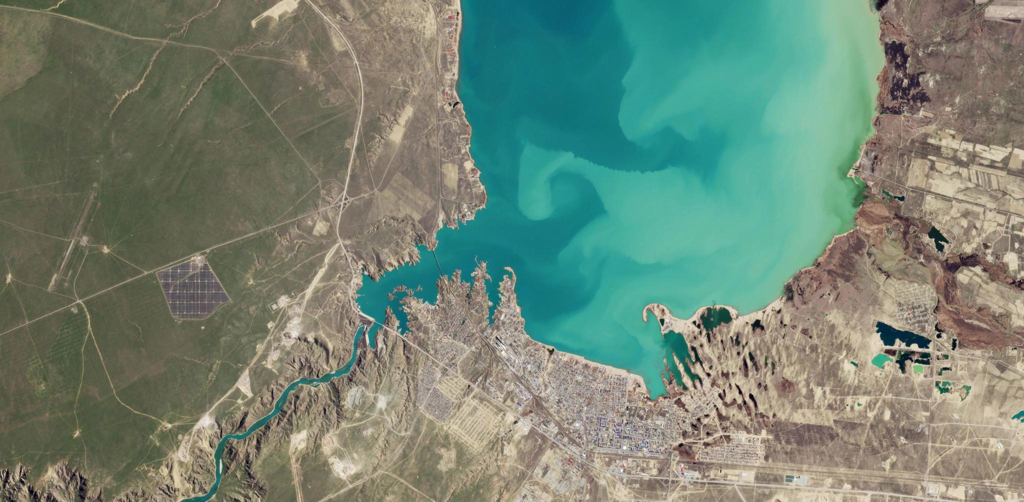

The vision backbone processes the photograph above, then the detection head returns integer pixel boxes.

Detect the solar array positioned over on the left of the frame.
[157,261,230,318]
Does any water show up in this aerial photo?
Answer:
Yes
